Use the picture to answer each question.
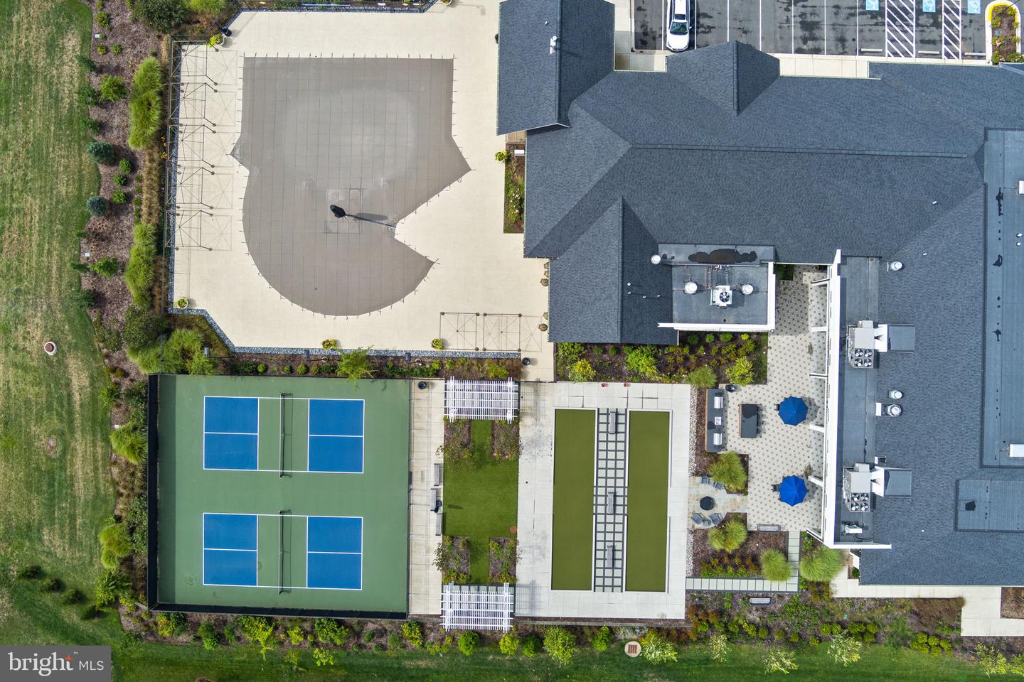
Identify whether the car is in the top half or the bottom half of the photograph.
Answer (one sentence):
The top half of the photo is where the car is.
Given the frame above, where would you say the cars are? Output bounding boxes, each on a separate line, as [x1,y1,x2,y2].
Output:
[665,0,694,46]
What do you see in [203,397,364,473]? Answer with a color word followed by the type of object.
blue sports court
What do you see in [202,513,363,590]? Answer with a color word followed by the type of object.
blue sports court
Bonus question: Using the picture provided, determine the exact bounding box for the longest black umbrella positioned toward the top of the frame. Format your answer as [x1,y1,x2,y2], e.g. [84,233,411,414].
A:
[330,204,352,223]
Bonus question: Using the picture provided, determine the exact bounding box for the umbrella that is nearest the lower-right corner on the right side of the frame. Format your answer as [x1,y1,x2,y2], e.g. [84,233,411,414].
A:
[776,475,806,505]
